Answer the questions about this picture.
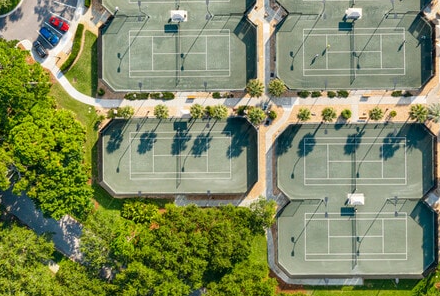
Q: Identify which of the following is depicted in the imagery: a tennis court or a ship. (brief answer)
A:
tennis court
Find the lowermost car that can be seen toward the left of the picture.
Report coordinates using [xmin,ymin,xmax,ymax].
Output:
[30,39,48,58]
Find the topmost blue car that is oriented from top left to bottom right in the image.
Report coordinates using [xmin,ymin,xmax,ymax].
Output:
[37,25,58,44]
